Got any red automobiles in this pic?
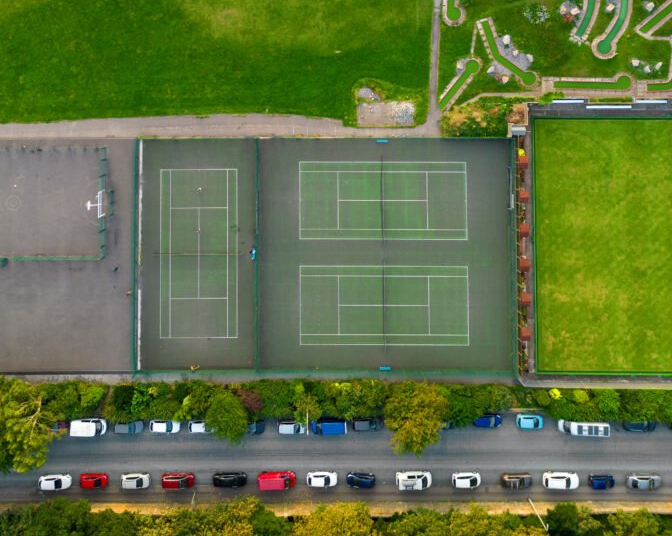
Yes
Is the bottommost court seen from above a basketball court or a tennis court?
tennis court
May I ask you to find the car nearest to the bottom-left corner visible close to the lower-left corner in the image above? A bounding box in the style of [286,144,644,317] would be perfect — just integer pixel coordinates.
[40,473,71,491]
